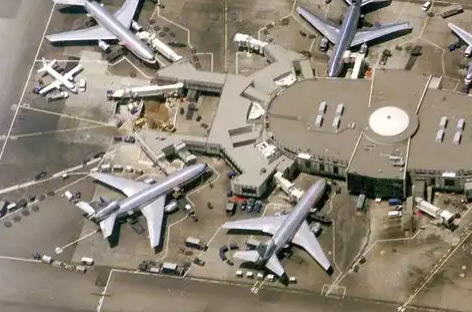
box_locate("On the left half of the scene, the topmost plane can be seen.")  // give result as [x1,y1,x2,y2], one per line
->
[40,0,155,66]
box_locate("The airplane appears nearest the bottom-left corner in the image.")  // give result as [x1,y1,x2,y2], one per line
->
[74,169,206,251]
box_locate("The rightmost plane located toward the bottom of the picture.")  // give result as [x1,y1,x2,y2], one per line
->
[221,184,329,276]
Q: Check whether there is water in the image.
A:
No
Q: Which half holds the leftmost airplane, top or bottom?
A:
top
